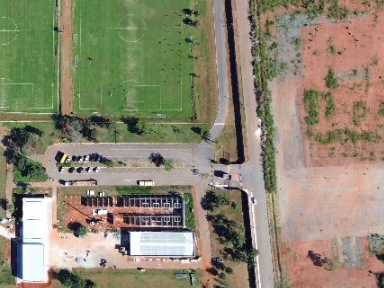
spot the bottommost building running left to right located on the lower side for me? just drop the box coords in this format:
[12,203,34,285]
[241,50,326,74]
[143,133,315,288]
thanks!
[129,230,194,256]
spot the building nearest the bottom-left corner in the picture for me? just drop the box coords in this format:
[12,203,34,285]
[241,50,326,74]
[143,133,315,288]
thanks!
[22,242,44,281]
